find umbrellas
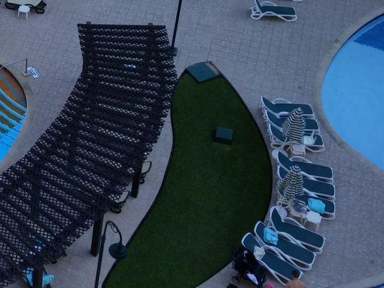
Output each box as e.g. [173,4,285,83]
[274,102,303,158]
[273,159,302,215]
